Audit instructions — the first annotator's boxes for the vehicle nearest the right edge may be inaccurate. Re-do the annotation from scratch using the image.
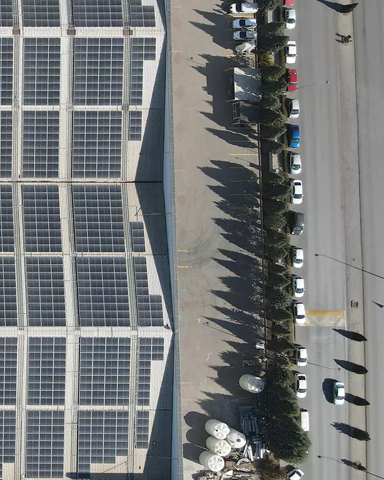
[333,380,346,405]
